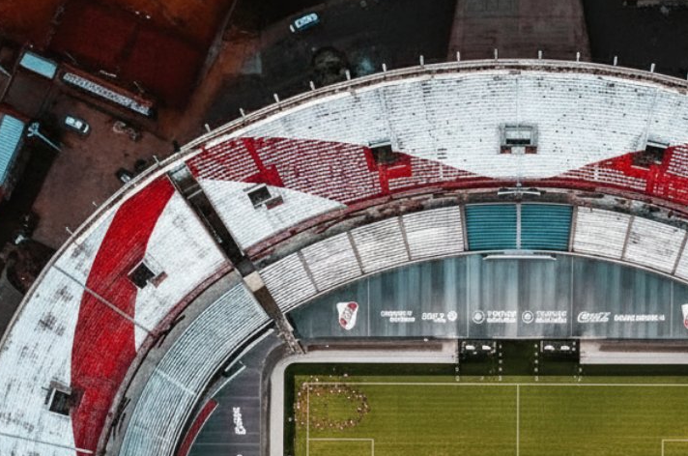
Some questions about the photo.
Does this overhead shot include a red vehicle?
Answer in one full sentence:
No, I find no red vehicle anywhere in the image.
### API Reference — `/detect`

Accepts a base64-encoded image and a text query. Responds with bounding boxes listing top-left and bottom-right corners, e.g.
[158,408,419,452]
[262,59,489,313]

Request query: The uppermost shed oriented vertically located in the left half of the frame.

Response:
[0,113,34,191]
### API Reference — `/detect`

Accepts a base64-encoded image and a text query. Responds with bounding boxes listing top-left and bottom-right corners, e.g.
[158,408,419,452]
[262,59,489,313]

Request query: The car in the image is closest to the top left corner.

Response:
[65,114,89,132]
